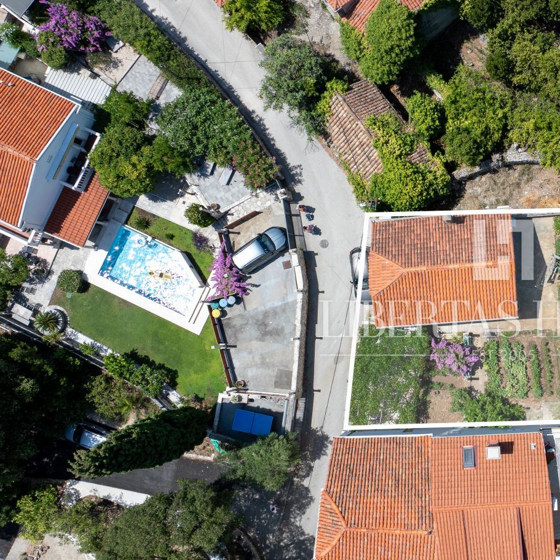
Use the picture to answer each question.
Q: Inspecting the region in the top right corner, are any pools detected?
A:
No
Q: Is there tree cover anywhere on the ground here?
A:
Yes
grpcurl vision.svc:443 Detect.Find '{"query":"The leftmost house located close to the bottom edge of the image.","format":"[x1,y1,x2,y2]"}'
[313,424,438,560]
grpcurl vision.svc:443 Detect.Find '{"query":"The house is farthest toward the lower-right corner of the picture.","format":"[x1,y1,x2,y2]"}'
[432,422,559,560]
